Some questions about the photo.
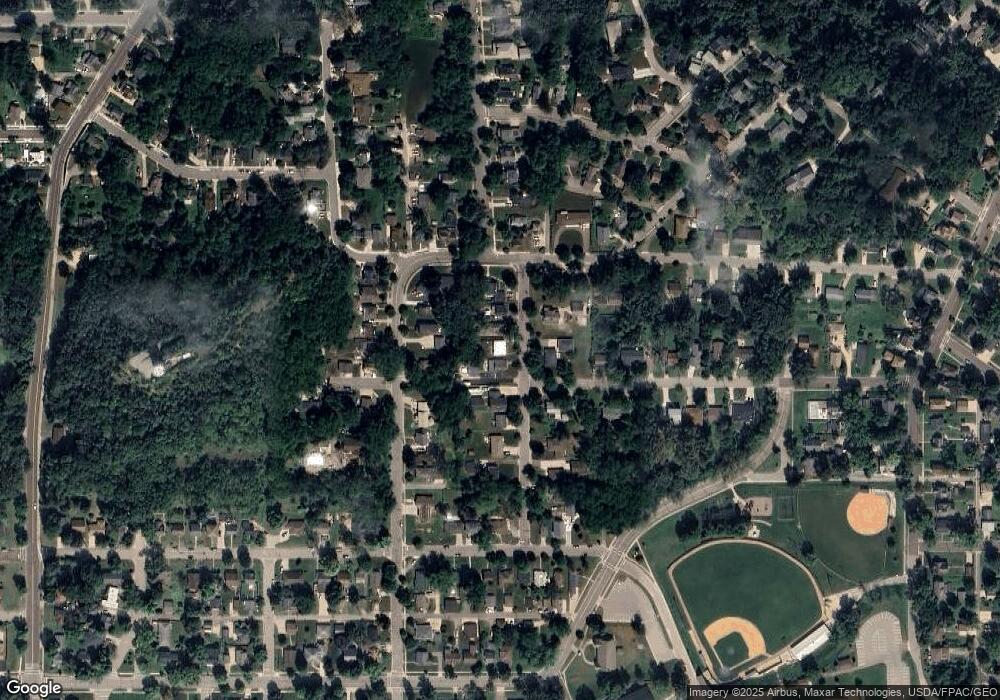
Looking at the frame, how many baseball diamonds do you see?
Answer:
2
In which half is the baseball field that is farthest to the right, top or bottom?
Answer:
bottom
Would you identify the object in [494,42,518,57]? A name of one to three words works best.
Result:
house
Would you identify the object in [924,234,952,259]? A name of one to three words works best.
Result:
house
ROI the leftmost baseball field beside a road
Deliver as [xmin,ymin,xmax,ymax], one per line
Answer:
[670,540,823,682]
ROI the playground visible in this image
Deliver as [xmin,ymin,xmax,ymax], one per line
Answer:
[750,497,772,516]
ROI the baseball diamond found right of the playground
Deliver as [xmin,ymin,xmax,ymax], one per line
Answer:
[800,486,902,584]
